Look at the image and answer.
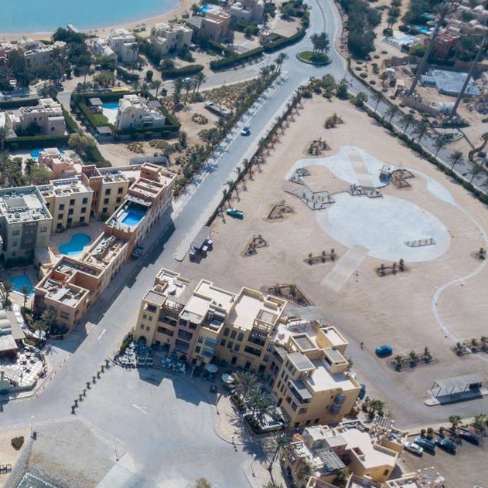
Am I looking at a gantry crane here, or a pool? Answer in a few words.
pool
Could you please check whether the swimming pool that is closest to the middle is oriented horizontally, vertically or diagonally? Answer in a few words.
diagonally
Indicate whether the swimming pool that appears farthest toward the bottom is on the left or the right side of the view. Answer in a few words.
left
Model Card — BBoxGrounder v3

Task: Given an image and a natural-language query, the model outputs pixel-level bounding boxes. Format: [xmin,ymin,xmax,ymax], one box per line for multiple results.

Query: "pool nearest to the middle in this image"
[122,205,148,228]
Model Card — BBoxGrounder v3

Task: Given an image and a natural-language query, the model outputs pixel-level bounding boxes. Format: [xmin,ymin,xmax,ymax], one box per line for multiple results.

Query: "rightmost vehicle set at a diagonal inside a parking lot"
[458,426,483,445]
